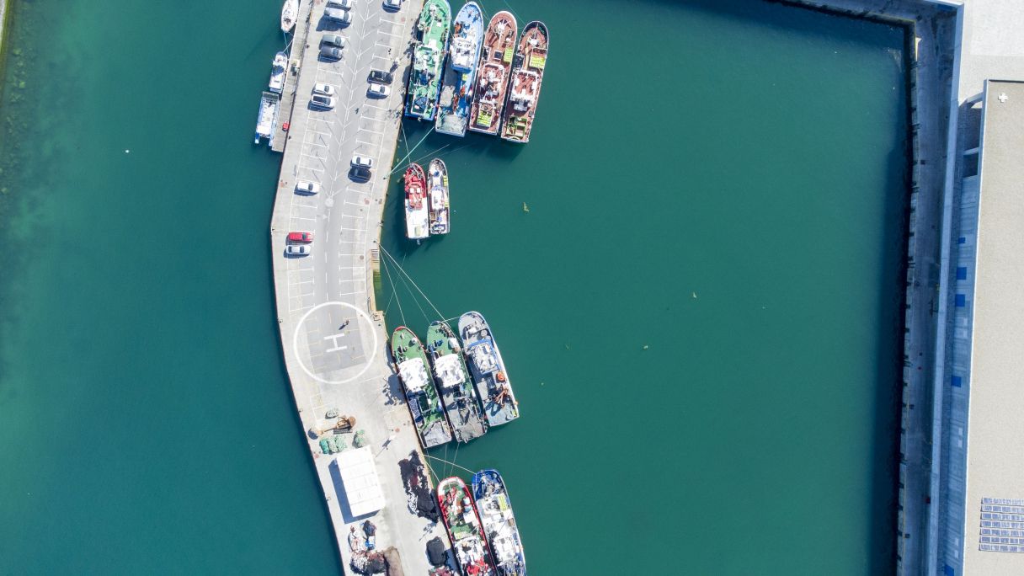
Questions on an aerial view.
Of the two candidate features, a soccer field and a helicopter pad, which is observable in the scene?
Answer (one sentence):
This aerial view contains a helicopter pad.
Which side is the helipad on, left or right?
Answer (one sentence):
The helipad is on the left side of the image.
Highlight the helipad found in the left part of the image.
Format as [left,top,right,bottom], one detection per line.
[294,302,377,384]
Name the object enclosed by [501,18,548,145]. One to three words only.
boat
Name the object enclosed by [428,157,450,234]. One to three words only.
boat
